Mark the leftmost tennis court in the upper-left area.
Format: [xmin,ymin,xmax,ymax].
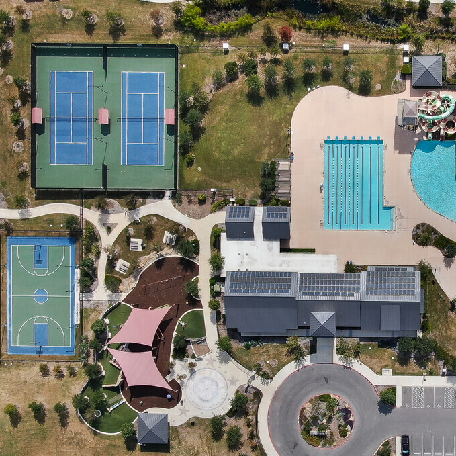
[36,47,105,188]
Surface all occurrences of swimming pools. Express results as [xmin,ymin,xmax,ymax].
[321,136,395,231]
[410,140,456,223]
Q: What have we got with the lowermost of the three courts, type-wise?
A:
basketball court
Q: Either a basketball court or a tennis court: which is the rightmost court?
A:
tennis court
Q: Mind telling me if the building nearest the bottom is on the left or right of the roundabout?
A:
on the left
